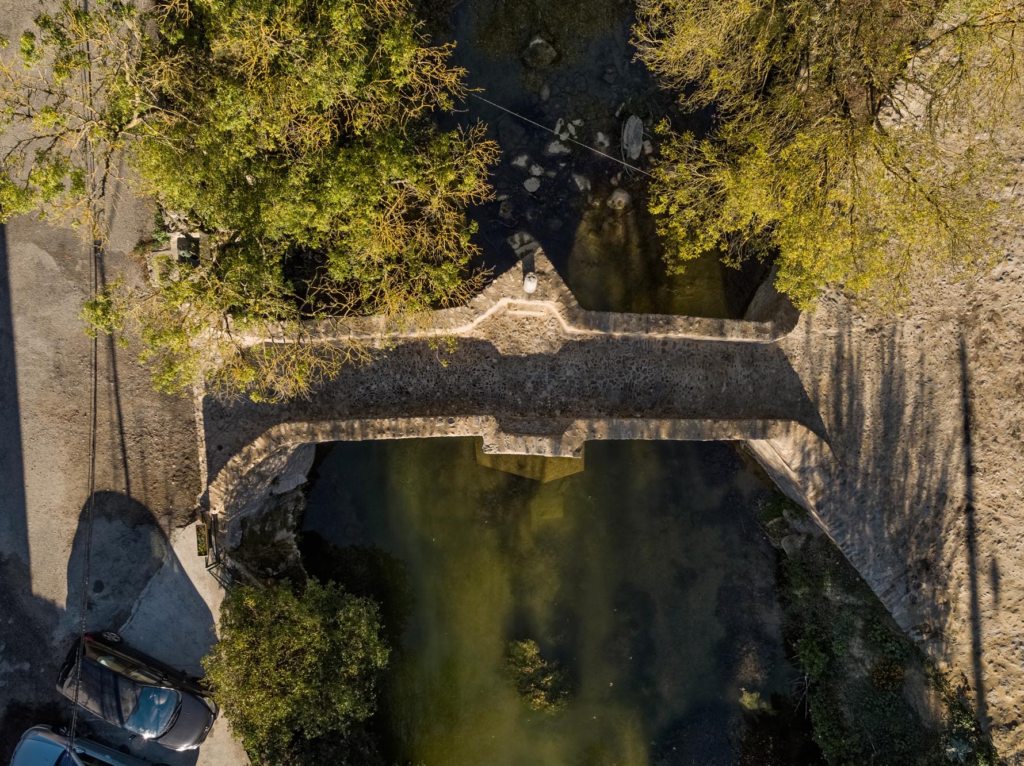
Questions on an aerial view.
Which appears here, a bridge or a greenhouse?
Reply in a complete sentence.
Looking from above, you can make out a bridge.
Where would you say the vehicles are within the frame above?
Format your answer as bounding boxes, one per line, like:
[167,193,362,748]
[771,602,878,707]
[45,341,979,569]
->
[51,628,221,753]
[0,719,160,766]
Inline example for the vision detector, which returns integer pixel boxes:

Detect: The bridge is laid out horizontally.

[195,231,843,520]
